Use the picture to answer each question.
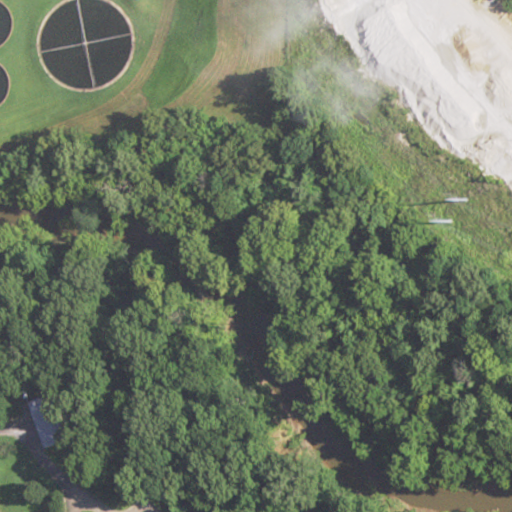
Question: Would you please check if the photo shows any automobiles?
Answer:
No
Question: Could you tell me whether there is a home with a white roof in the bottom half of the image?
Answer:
No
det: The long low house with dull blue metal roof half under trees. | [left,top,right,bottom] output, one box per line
[28,398,57,448]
